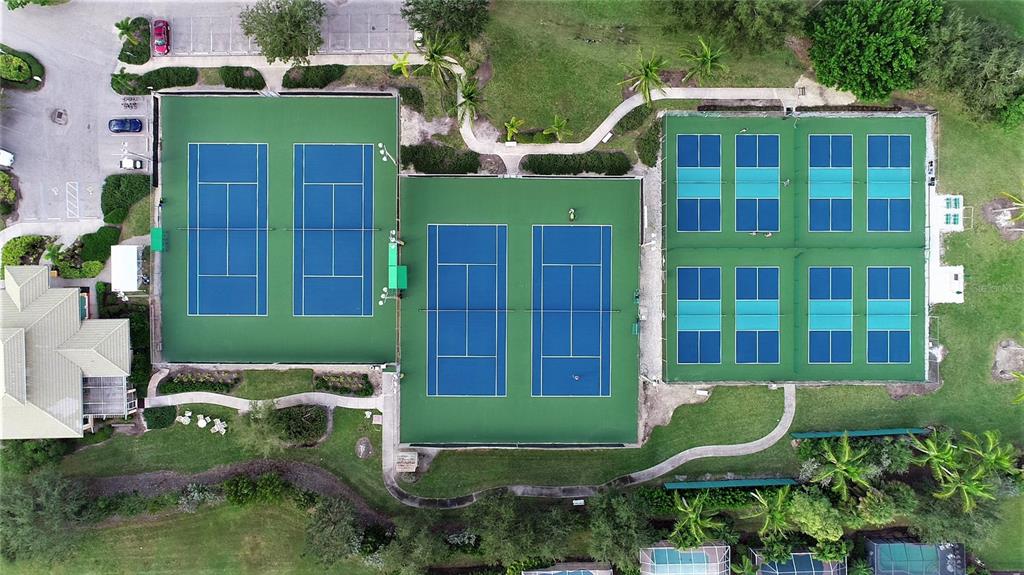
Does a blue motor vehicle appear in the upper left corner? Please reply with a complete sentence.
Yes, I can see a blue motor vehicle in the upper left corner.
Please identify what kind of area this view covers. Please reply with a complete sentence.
The area seen from above is a sports ground.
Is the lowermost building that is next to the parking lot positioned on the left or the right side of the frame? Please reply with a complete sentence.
You can find the lowermost building that is next to the parking lot on the left side of the picture.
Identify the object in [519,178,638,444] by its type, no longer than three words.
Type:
tennis court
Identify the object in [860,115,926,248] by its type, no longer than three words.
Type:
sports court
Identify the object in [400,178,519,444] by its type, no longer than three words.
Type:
tennis court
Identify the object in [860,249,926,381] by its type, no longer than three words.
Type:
sports court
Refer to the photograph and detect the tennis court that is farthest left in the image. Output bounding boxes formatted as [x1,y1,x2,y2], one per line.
[161,95,281,363]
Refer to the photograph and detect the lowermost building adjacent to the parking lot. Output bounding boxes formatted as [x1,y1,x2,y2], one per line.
[0,264,147,439]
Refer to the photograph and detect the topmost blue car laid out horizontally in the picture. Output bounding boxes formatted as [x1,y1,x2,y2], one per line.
[108,117,143,133]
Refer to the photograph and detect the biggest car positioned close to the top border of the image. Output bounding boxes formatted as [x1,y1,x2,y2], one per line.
[150,18,170,55]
